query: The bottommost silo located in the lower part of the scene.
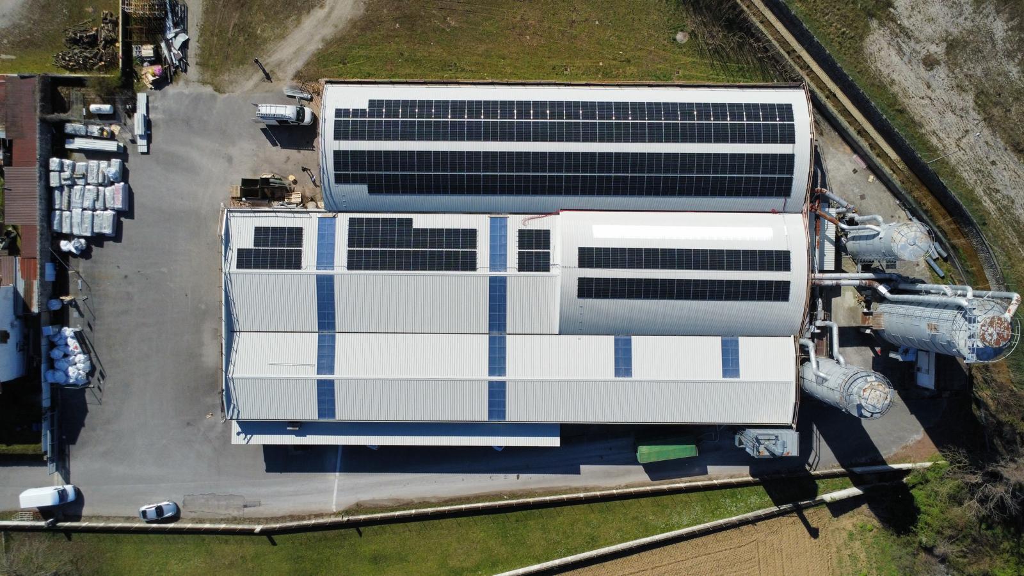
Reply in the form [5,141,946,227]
[804,360,897,421]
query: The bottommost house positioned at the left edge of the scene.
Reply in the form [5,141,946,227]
[0,286,50,381]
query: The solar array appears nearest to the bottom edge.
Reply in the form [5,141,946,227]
[578,279,792,301]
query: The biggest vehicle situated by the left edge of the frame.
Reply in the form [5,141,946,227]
[20,484,82,510]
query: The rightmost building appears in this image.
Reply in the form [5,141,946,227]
[904,350,935,388]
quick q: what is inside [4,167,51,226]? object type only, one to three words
shed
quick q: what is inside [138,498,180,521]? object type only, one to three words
car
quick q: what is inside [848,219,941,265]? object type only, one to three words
silo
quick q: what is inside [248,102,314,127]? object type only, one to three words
vehicle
